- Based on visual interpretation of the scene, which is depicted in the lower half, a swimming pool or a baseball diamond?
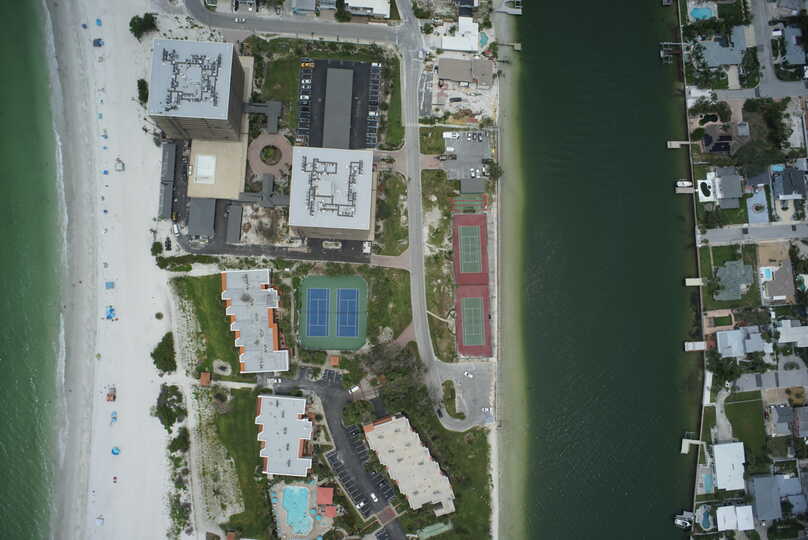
swimming pool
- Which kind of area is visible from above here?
residential area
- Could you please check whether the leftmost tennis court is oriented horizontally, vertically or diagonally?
vertically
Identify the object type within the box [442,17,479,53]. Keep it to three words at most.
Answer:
house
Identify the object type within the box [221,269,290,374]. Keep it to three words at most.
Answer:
building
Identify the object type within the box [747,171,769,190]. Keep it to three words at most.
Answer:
house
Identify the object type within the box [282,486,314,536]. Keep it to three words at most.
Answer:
swimming pool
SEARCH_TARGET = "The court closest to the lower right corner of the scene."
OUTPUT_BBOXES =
[455,284,493,356]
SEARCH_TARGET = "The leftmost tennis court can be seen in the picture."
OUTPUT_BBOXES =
[298,276,333,350]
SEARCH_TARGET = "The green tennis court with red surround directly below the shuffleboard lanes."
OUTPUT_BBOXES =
[453,212,489,284]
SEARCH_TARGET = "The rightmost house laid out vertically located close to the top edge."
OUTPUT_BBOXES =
[784,25,805,66]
